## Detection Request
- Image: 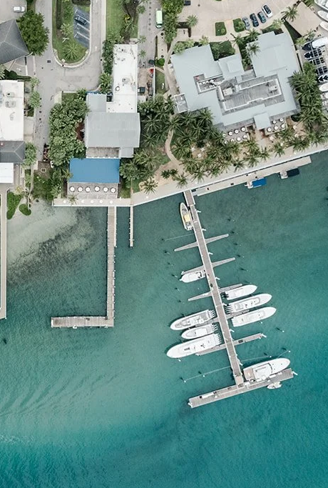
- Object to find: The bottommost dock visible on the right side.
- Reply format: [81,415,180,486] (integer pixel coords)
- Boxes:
[173,191,296,406]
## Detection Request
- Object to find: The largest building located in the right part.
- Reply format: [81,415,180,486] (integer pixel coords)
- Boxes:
[167,31,301,131]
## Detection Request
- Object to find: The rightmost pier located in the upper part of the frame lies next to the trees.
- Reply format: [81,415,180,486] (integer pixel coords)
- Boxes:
[193,157,311,197]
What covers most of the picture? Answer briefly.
water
